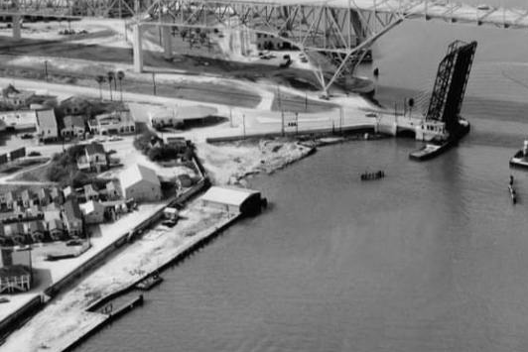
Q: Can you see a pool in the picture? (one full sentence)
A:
No, the photo shows no pool.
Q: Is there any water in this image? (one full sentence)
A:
Yes, water shows up in the scene.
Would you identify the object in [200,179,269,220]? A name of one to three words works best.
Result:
shed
